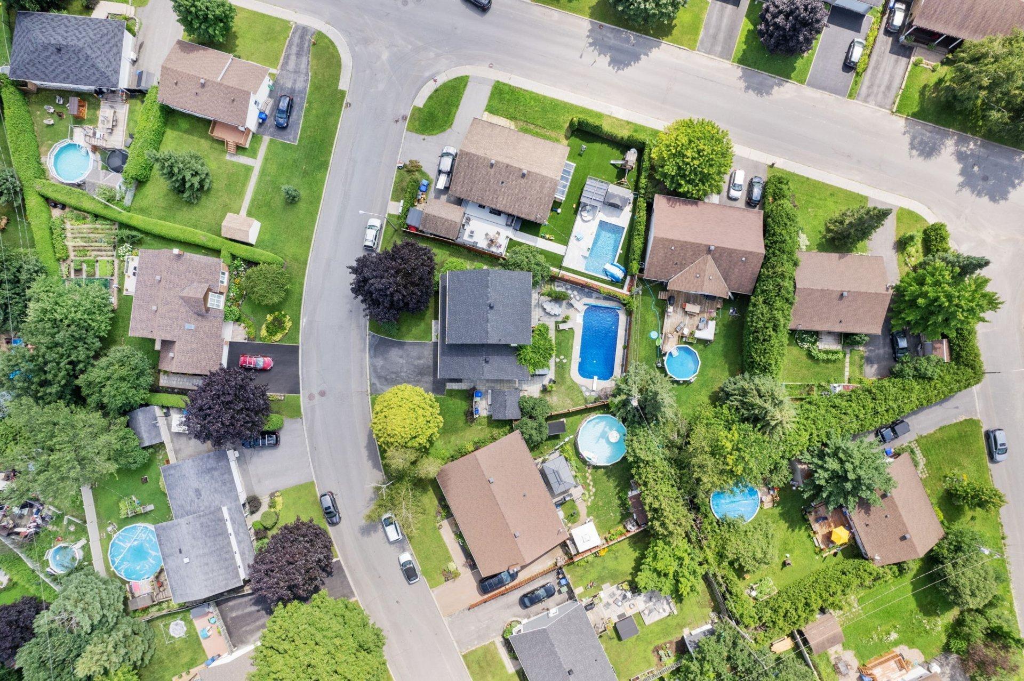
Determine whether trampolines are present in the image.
Yes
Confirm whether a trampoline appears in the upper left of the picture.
Yes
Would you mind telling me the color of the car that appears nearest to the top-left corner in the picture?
blue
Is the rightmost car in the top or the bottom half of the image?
bottom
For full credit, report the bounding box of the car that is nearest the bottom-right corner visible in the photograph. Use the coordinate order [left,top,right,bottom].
[984,428,1006,463]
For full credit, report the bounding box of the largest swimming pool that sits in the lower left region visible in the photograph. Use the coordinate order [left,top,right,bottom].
[108,523,163,580]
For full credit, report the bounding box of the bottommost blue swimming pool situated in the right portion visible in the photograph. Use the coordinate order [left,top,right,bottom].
[709,477,760,526]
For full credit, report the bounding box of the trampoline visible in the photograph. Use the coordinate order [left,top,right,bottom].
[96,145,125,171]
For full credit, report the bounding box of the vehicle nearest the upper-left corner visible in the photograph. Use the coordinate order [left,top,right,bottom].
[275,94,295,130]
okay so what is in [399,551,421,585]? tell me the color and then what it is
white car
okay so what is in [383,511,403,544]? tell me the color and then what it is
white car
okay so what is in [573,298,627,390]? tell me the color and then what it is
blue swimming pool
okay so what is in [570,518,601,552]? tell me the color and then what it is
white gazebo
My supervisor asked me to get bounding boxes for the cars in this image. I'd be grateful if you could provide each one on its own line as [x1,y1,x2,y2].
[478,570,519,596]
[383,511,403,544]
[517,581,557,609]
[245,432,281,450]
[275,94,295,130]
[726,168,745,200]
[320,489,342,525]
[239,354,275,370]
[364,218,382,250]
[844,38,864,70]
[464,0,493,16]
[744,176,763,207]
[984,428,1006,463]
[399,551,421,585]
[884,2,905,33]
